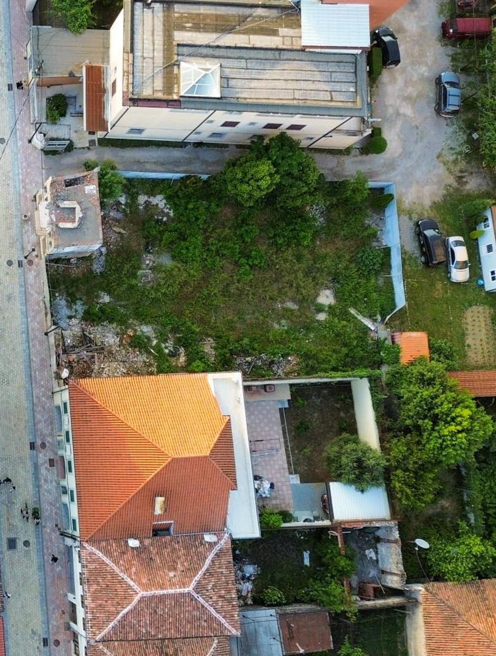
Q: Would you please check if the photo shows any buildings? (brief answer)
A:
Yes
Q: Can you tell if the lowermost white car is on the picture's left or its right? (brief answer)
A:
right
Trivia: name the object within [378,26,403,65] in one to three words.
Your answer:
car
